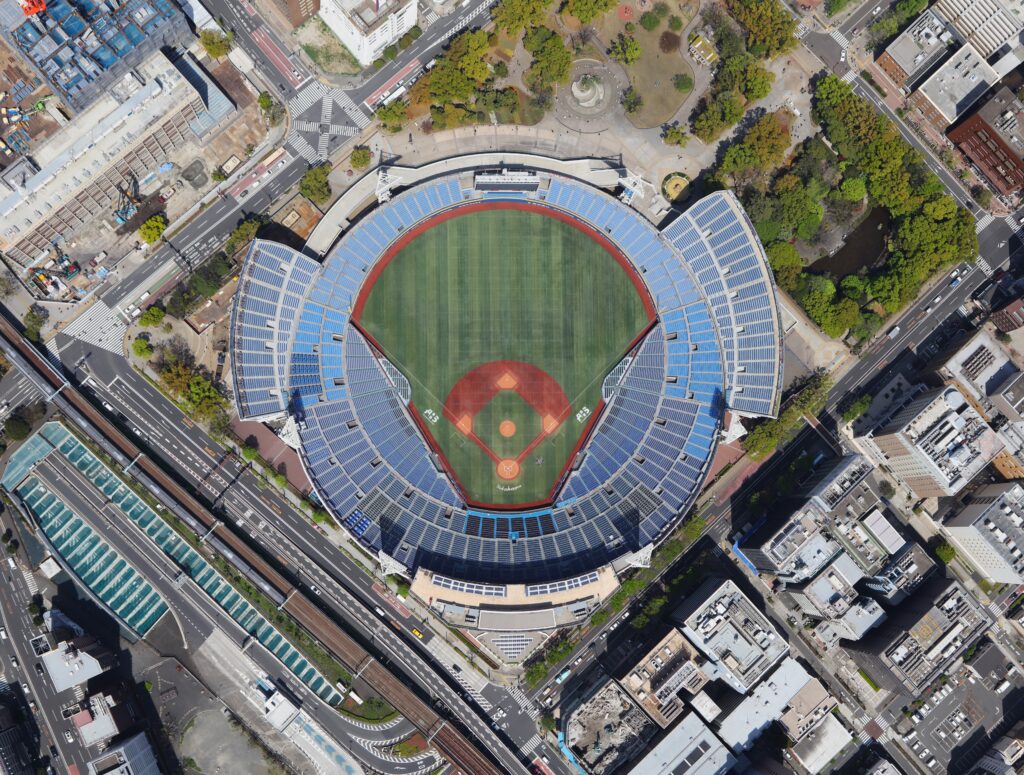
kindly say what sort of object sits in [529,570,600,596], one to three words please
solar panel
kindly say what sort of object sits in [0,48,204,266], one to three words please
building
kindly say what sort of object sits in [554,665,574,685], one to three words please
bus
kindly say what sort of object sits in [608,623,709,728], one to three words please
building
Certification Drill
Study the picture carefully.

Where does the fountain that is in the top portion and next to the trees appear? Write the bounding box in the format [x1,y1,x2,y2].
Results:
[556,59,620,123]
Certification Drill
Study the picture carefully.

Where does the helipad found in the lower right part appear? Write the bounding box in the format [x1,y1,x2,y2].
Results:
[909,606,951,649]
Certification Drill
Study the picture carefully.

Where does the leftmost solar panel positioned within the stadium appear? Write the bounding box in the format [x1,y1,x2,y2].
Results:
[433,573,504,597]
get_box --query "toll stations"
[263,690,301,731]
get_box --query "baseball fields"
[351,204,655,511]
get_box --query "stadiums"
[231,152,786,630]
